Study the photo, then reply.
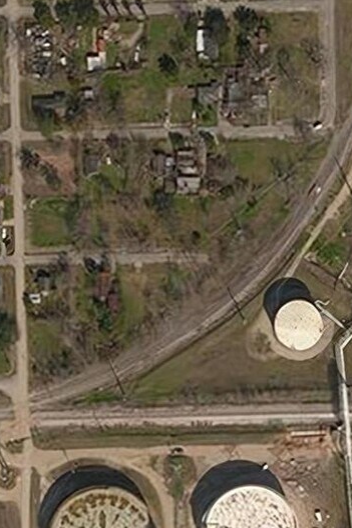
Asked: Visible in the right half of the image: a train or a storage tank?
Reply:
storage tank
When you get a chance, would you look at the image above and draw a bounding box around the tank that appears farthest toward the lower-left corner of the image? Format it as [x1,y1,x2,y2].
[52,488,149,528]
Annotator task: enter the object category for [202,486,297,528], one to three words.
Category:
storage tank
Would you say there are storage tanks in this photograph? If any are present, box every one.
[52,488,149,528]
[273,297,324,350]
[202,486,297,528]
